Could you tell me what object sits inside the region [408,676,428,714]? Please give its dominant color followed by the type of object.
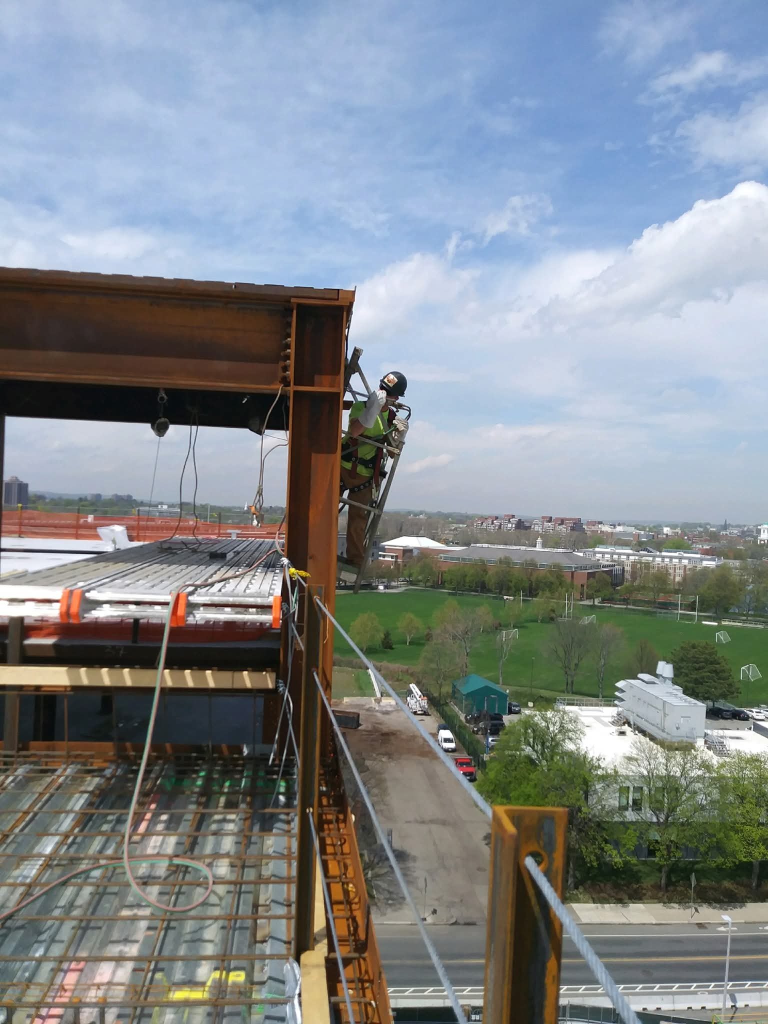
white vehicle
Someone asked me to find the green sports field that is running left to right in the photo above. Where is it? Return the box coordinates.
[337,587,768,701]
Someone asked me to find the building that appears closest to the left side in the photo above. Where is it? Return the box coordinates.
[7,476,38,511]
